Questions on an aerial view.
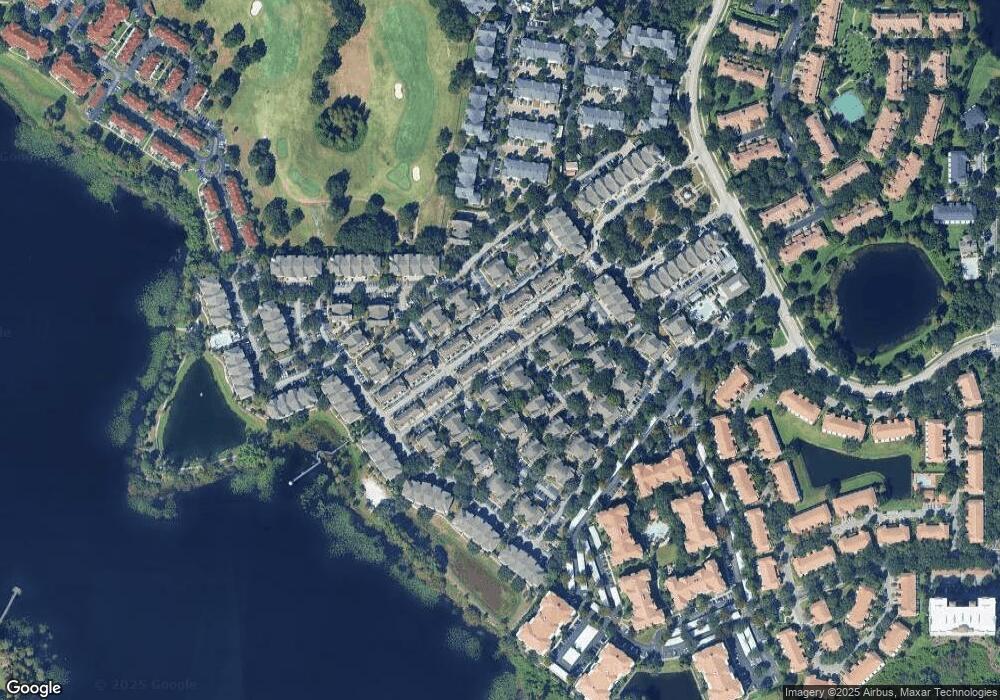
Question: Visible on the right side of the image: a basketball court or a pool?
pool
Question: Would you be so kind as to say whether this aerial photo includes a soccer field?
No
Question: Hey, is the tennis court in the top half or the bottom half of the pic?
top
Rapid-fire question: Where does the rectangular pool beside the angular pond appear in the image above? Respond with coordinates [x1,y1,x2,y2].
[914,473,936,489]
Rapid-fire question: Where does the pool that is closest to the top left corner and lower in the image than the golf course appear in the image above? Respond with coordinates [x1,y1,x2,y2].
[210,329,232,348]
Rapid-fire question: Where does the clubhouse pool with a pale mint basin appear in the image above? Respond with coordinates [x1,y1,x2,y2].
[691,296,722,322]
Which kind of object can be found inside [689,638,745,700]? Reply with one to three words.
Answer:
building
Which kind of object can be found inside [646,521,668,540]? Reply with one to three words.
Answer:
swimming pool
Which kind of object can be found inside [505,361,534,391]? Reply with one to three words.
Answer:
house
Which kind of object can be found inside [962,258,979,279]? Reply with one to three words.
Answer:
swimming pool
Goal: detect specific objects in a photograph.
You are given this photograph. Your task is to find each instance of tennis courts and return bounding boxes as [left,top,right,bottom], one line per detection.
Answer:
[829,91,867,124]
